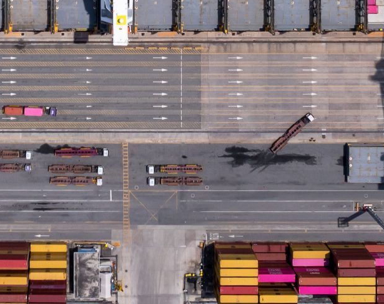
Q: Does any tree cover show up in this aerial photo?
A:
No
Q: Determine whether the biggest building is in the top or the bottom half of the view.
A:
bottom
